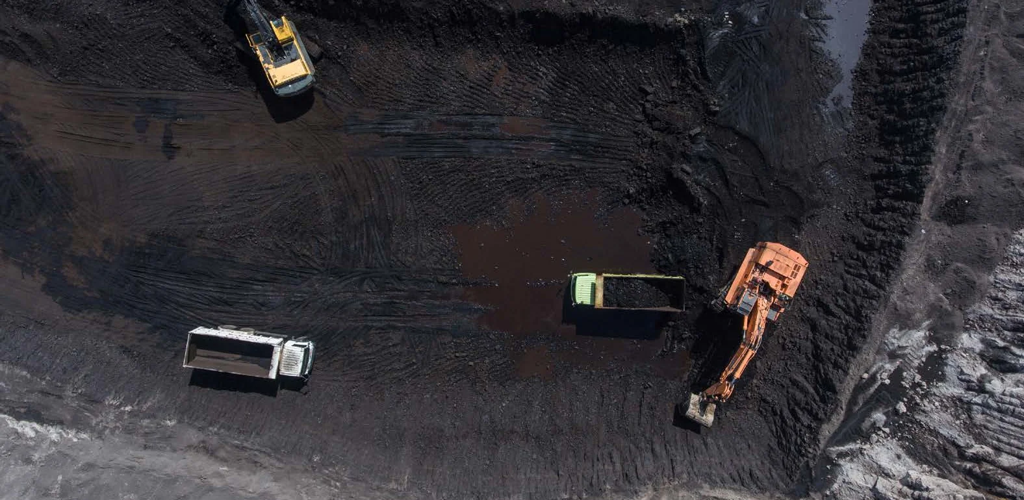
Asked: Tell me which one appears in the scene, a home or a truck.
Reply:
truck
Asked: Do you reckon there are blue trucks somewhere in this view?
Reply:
No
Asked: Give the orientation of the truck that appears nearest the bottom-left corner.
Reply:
from side to side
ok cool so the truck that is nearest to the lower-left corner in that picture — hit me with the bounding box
[185,328,318,385]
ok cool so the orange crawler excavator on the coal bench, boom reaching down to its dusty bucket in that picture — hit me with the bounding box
[683,241,806,425]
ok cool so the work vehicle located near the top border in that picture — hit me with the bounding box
[240,0,325,99]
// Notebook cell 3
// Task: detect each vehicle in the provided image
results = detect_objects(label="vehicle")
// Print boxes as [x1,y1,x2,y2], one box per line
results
[240,0,325,99]
[683,241,806,425]
[185,328,318,385]
[567,269,686,312]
